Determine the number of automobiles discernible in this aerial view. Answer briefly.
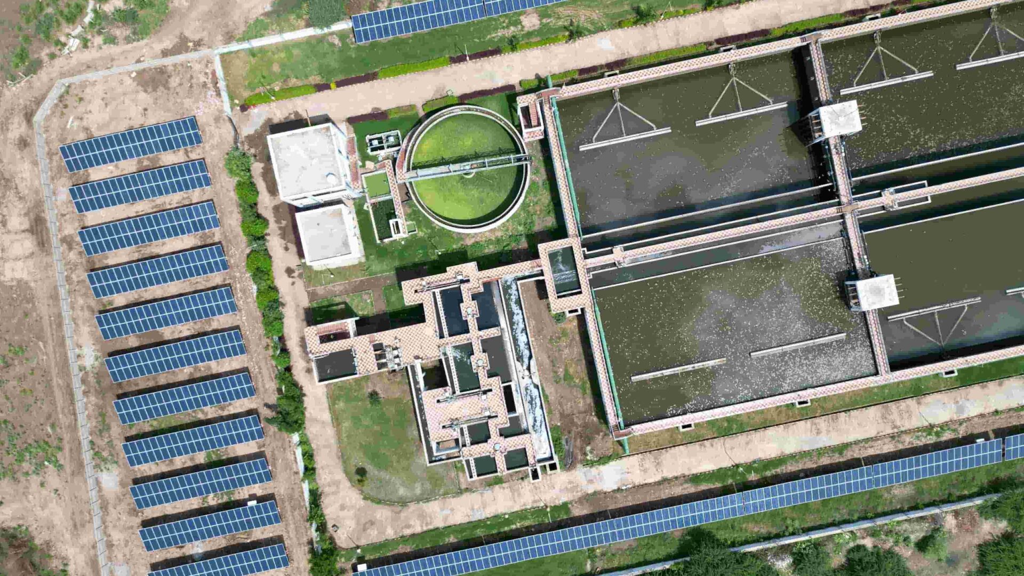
0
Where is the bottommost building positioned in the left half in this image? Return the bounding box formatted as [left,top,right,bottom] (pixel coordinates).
[295,195,368,266]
